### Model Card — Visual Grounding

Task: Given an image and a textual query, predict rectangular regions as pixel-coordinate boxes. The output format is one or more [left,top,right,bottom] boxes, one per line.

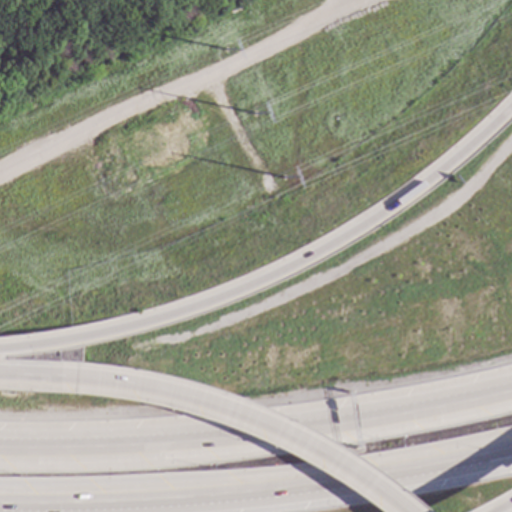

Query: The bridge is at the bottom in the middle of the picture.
[0,358,432,512]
